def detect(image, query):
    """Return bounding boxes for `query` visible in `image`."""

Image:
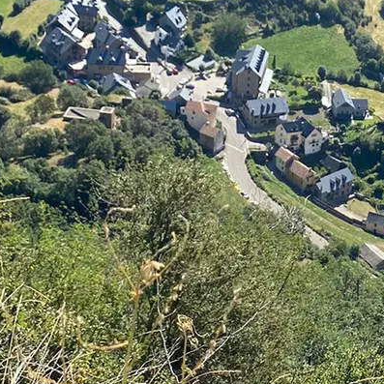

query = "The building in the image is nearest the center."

[199,122,229,152]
